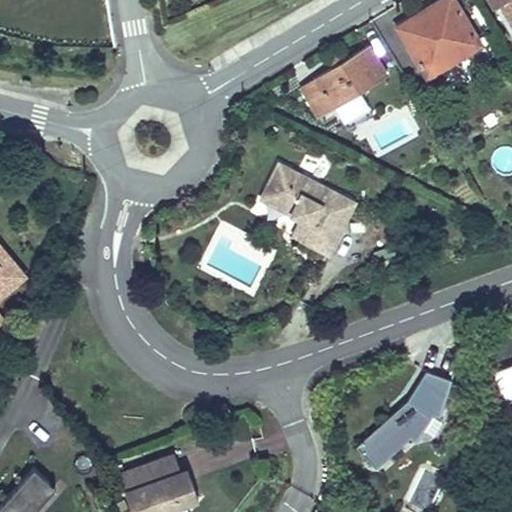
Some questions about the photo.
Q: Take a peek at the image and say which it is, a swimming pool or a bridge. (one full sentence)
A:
The one in the frame is a swimming pool.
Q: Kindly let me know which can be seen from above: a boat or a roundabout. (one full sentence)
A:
I can see a roundabout in this picture.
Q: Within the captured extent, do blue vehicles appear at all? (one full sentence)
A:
No, I find no blue vehicle anywhere in the image.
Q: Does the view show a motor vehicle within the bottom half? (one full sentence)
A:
Yes, a motor vehicle can be seen within the bottom half.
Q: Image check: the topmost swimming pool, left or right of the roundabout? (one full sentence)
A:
Looking at the photo, the topmost swimming pool lies to the right of the roundabout.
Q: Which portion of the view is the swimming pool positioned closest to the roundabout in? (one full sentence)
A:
The swimming pool positioned closest to the roundabout is located in the center region of the scene.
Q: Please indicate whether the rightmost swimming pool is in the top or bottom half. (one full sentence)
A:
It is in the top half that the rightmost swimming pool appears.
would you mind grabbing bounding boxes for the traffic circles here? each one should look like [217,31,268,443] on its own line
[91,73,220,206]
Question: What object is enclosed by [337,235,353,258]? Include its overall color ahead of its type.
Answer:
white car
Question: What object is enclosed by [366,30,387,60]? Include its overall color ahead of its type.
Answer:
white vehicle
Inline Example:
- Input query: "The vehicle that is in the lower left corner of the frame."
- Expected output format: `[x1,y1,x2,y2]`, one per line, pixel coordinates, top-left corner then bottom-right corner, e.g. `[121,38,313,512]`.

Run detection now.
[28,422,50,443]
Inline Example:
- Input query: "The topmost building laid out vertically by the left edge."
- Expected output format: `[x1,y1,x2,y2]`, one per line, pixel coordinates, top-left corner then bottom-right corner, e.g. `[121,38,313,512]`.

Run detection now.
[0,244,29,308]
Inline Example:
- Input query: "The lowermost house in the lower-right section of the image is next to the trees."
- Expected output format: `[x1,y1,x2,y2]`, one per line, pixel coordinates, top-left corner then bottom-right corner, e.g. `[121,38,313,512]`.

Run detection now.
[398,460,440,512]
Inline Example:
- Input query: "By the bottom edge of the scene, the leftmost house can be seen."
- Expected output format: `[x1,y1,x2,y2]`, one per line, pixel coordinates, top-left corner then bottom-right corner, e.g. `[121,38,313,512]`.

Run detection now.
[0,474,54,512]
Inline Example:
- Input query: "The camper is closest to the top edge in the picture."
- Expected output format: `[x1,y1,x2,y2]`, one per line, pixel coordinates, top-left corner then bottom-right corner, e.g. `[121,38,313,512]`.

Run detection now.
[472,4,488,29]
